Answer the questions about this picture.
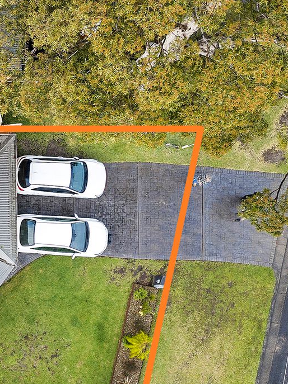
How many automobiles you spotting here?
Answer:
two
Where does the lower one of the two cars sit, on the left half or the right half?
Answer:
left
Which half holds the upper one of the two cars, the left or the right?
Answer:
left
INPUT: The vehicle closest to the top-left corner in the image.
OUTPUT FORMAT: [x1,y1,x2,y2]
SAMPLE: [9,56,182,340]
[19,155,103,199]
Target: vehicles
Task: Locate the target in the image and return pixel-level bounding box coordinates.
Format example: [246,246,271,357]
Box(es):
[19,155,103,199]
[19,214,105,258]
